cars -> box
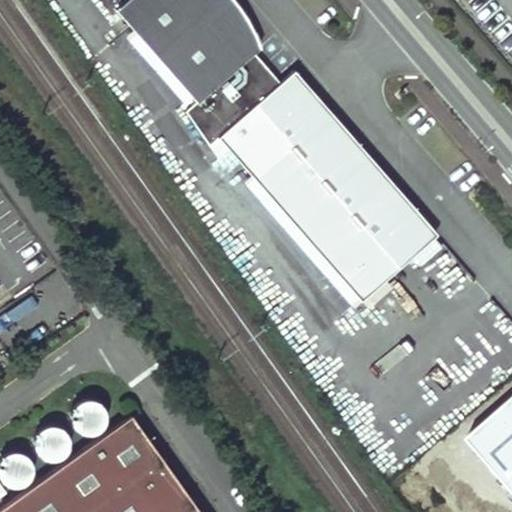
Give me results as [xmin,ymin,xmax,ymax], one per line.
[477,0,500,22]
[410,108,430,126]
[485,11,508,32]
[230,486,244,506]
[316,7,337,26]
[493,20,512,42]
[450,162,472,182]
[20,242,42,260]
[460,173,480,192]
[470,0,486,10]
[500,35,512,52]
[26,252,48,270]
[416,116,436,136]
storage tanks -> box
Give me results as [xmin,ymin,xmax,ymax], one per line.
[32,425,75,464]
[0,451,38,490]
[70,399,112,438]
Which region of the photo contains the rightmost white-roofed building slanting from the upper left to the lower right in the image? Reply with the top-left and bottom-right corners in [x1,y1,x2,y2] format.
[212,72,444,310]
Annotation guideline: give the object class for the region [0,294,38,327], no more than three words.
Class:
truck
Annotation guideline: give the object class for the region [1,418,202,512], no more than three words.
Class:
building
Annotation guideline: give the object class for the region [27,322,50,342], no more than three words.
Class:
vehicle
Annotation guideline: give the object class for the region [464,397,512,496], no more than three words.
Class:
building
